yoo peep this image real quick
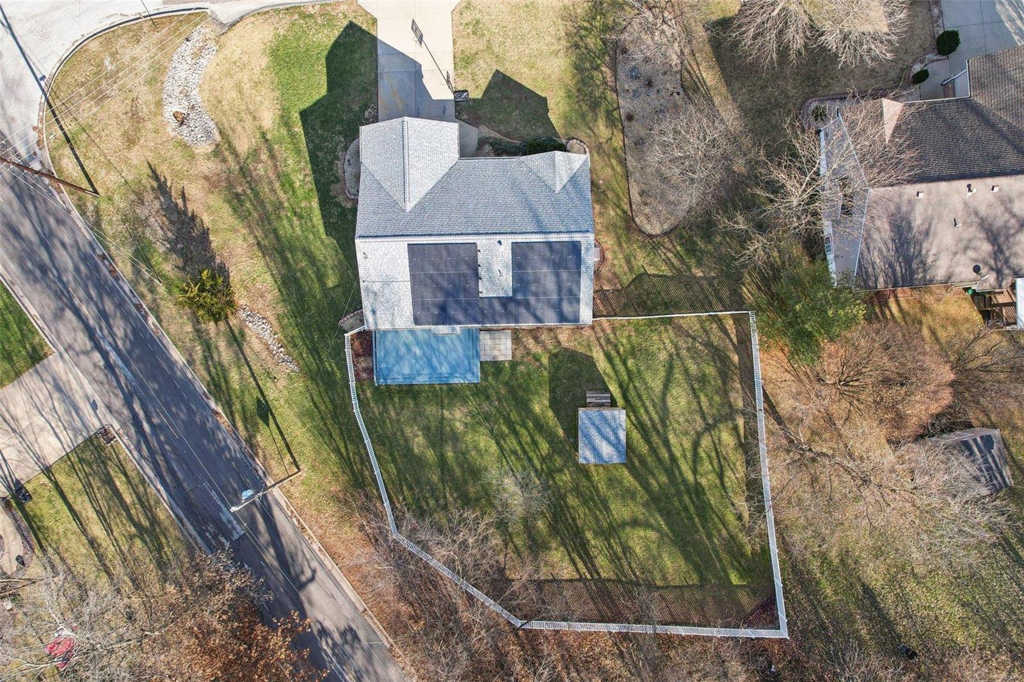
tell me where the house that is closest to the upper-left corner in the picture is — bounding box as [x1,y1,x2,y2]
[356,117,594,335]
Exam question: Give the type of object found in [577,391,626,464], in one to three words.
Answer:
shed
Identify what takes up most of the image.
grass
